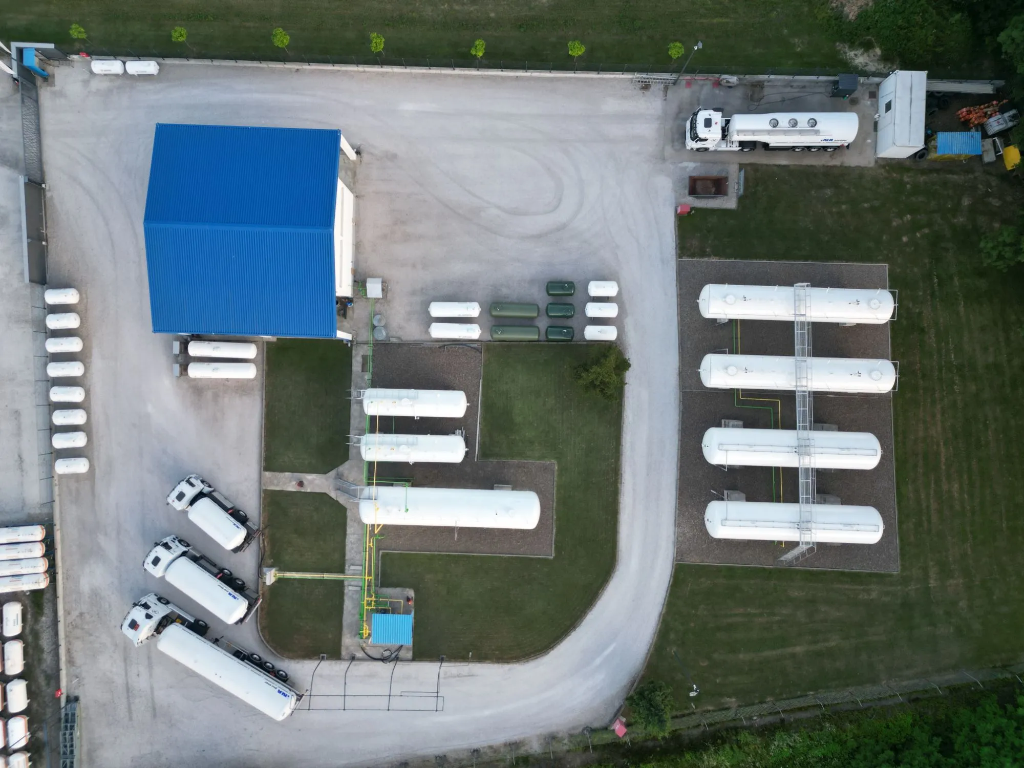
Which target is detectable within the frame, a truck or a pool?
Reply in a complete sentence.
The one in the frame is a truck.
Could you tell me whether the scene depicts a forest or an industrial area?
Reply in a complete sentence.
This image shows an industrial area.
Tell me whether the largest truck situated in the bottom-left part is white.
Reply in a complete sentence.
Yes, the largest truck situated in the bottom-left part appears white.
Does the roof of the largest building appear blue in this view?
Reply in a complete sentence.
Yes, the roof of the largest building is indeed blue.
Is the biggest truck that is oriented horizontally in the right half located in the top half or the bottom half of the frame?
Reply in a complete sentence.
It is in the top half that the biggest truck that is oriented horizontally in the right half appears.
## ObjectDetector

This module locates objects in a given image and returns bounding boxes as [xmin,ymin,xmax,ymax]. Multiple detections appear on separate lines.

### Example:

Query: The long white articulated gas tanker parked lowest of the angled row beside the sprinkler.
[121,591,312,722]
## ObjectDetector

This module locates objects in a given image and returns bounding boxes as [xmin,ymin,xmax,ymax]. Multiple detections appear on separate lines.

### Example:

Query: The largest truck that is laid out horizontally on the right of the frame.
[683,107,862,153]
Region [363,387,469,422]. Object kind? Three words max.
storage tank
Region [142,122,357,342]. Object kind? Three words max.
building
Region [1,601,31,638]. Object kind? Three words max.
storage tank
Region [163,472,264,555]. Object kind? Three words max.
truck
